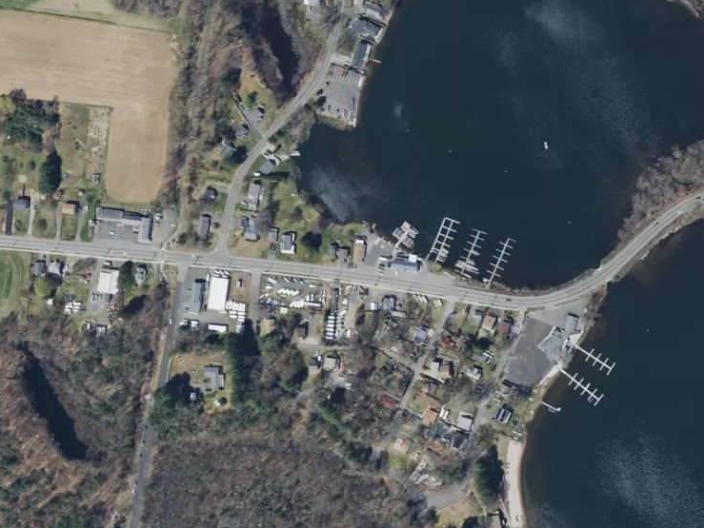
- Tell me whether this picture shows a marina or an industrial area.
marina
